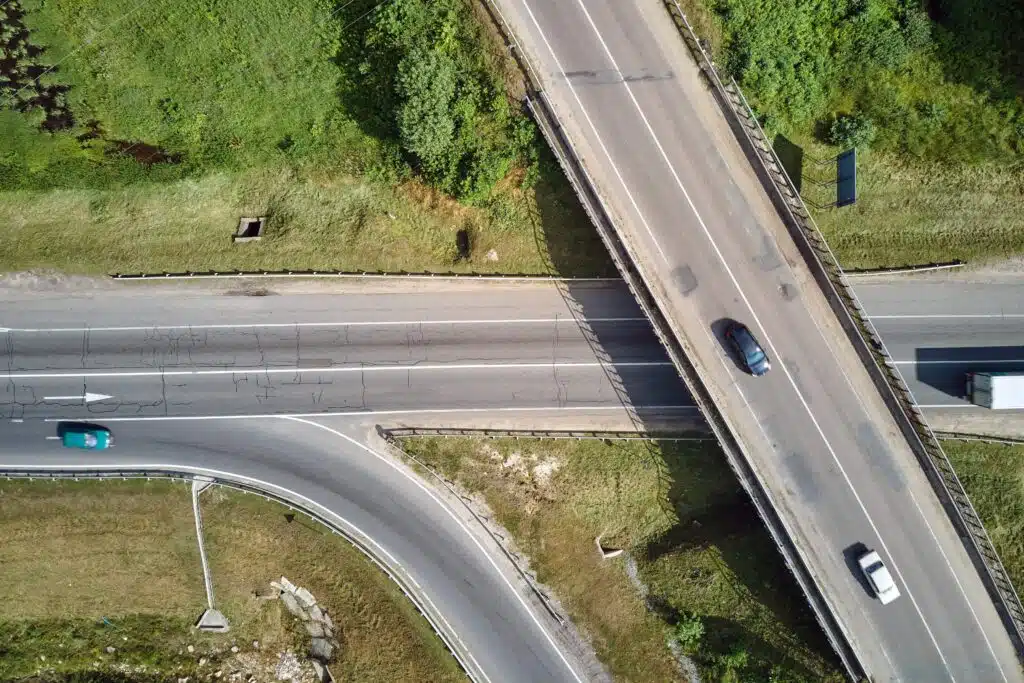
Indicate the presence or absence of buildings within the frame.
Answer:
No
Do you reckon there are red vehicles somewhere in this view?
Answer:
No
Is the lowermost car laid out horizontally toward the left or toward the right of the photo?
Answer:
left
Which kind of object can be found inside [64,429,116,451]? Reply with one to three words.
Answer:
car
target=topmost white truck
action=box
[960,372,1024,409]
